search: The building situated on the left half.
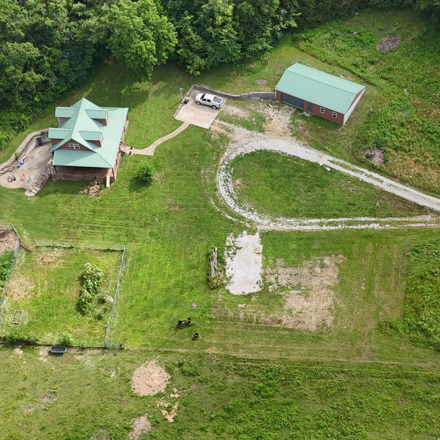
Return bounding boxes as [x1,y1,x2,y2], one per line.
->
[49,97,132,192]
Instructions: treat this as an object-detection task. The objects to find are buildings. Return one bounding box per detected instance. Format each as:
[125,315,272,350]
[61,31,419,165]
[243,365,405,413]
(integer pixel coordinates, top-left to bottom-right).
[49,97,132,192]
[274,58,365,125]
